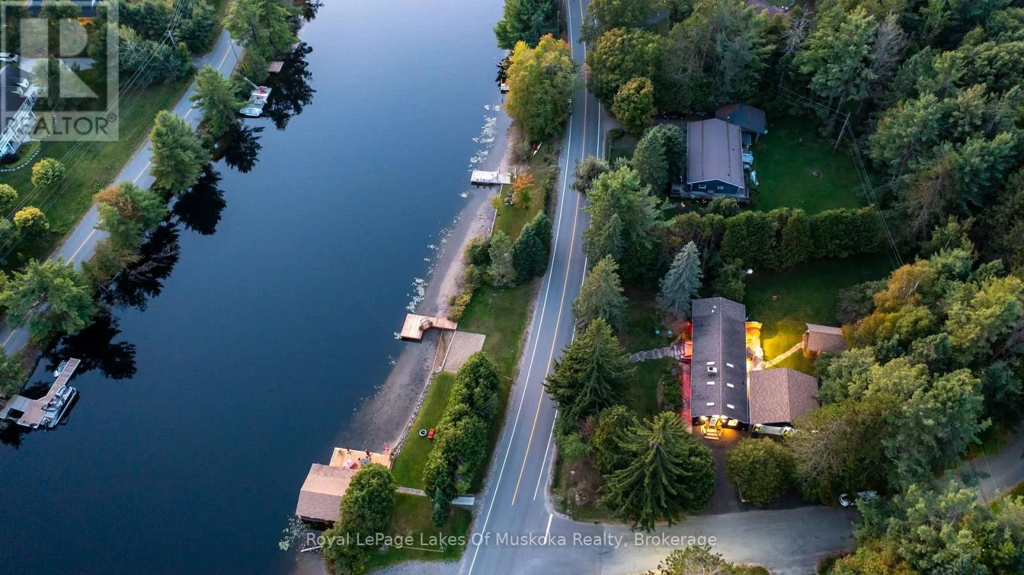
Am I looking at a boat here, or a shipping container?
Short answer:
boat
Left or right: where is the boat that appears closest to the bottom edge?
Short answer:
left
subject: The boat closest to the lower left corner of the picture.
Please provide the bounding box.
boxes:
[42,387,84,430]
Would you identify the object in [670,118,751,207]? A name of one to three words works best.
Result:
house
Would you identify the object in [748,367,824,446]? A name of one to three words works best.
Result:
building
